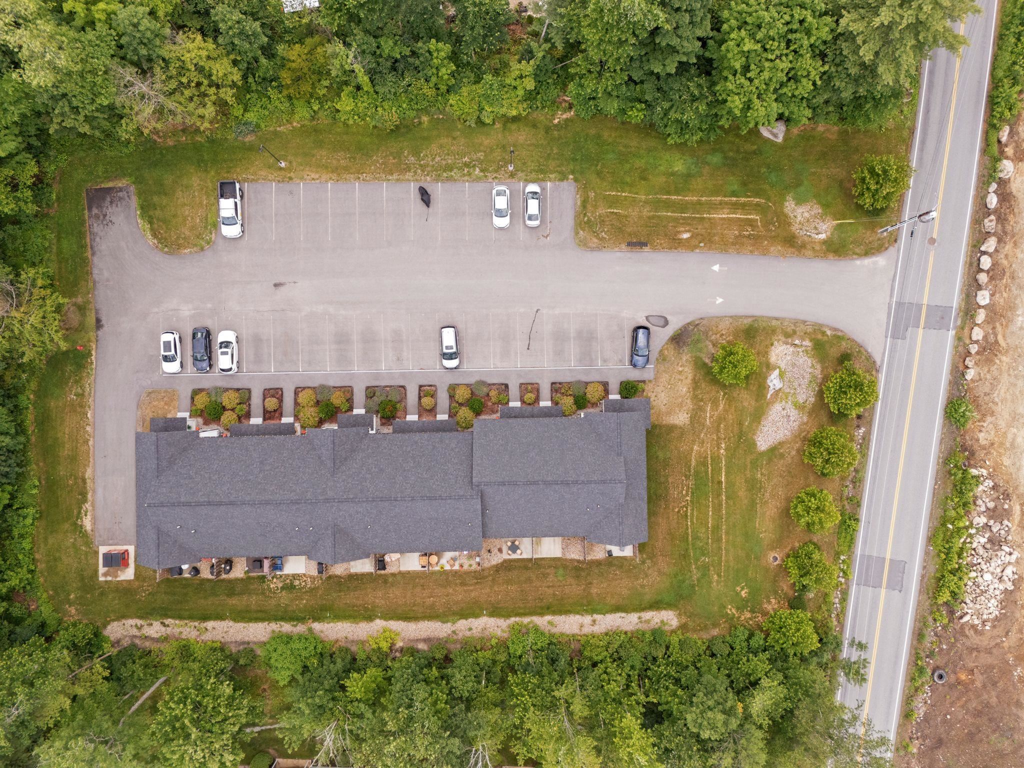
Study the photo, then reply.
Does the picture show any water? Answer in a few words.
No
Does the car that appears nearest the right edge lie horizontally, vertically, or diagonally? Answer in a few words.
vertically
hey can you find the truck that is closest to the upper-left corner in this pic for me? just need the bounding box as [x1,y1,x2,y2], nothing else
[218,180,243,237]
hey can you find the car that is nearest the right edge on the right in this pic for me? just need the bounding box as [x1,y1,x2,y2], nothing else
[631,324,652,368]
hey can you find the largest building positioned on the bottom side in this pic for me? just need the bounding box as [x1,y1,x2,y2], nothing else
[136,398,653,568]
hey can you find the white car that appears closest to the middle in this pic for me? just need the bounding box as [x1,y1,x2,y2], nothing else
[439,325,461,369]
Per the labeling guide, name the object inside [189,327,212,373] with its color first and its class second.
gray car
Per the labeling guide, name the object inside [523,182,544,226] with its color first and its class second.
white car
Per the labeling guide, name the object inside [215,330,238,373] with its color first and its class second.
white car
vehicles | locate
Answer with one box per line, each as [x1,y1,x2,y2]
[523,182,544,226]
[631,324,652,368]
[218,180,243,237]
[189,327,212,373]
[158,331,182,373]
[491,184,511,228]
[439,325,461,369]
[215,330,238,373]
